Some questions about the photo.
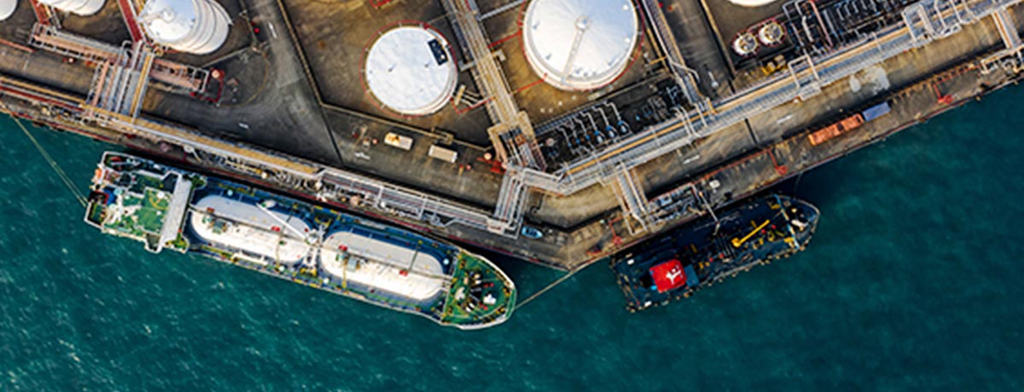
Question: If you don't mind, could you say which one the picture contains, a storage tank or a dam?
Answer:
storage tank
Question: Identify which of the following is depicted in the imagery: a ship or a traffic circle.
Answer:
ship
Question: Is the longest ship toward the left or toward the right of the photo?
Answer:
left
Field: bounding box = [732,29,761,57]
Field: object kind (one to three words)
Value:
storage tank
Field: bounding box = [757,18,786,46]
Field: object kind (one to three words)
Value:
storage tank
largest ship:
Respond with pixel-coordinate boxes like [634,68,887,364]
[82,152,515,330]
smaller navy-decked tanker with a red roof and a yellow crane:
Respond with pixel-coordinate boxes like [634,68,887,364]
[610,194,820,312]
